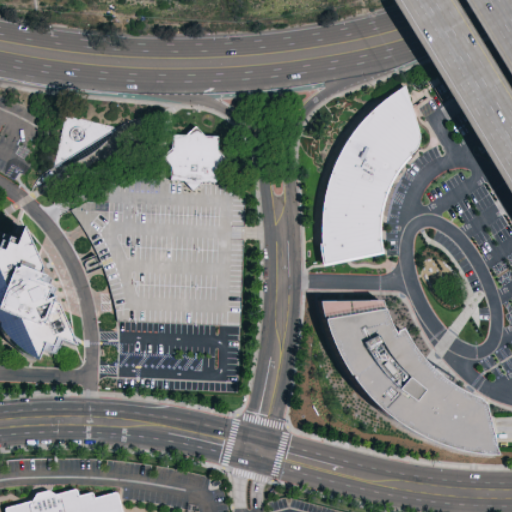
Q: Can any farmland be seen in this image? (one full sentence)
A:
No, no farmland is visible.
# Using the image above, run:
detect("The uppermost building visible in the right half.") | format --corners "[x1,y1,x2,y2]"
[322,87,421,265]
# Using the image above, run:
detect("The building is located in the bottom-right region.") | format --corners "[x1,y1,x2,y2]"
[328,309,500,455]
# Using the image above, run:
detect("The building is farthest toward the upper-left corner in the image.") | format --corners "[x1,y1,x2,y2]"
[55,118,115,173]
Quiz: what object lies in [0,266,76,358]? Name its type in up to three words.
building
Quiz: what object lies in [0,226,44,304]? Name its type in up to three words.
building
